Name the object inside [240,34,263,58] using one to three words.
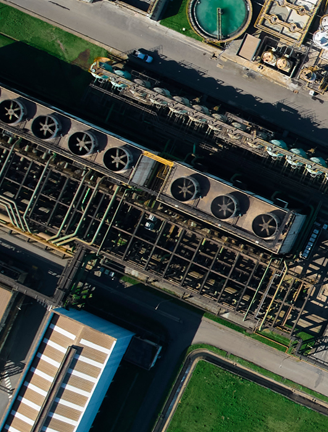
shed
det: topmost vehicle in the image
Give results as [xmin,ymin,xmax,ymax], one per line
[132,49,152,62]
